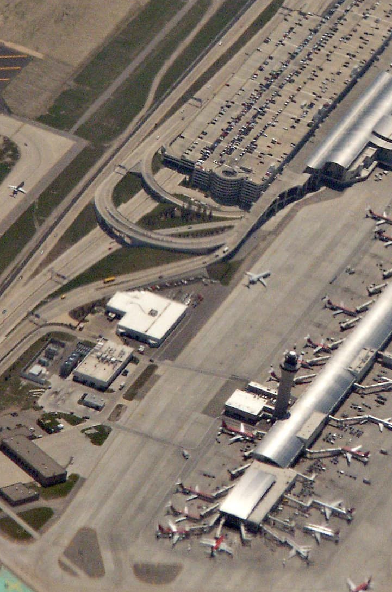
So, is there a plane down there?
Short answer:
Yes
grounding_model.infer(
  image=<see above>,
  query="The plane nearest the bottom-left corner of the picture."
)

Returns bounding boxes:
[154,521,190,540]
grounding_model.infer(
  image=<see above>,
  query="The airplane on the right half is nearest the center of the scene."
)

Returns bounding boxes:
[244,273,270,286]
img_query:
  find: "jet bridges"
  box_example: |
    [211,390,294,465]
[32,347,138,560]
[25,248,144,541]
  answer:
[284,494,317,509]
[304,445,346,456]
[227,463,251,476]
[325,341,337,349]
[214,520,223,540]
[197,503,219,518]
[355,379,392,393]
[336,317,355,330]
[329,413,373,424]
[352,302,367,313]
[269,515,299,530]
[240,449,251,458]
[261,524,288,545]
[208,483,235,499]
[240,527,255,546]
[185,518,218,534]
[304,356,324,366]
[289,468,320,484]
